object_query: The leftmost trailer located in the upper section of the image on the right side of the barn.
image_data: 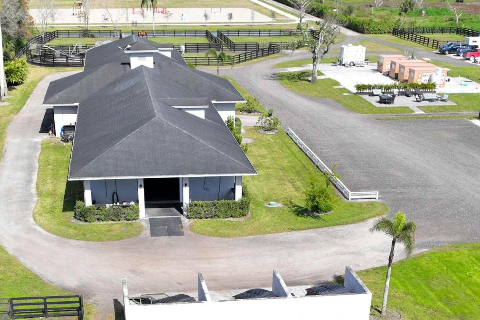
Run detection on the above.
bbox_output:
[332,36,375,65]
